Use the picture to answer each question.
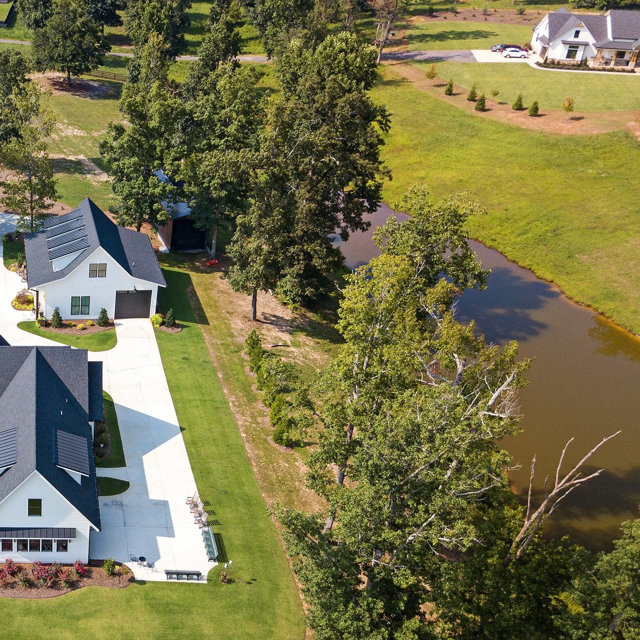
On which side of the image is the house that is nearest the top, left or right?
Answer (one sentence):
You can find the house that is nearest the top on the right side of the picture.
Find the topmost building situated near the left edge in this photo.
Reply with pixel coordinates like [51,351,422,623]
[25,196,168,320]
